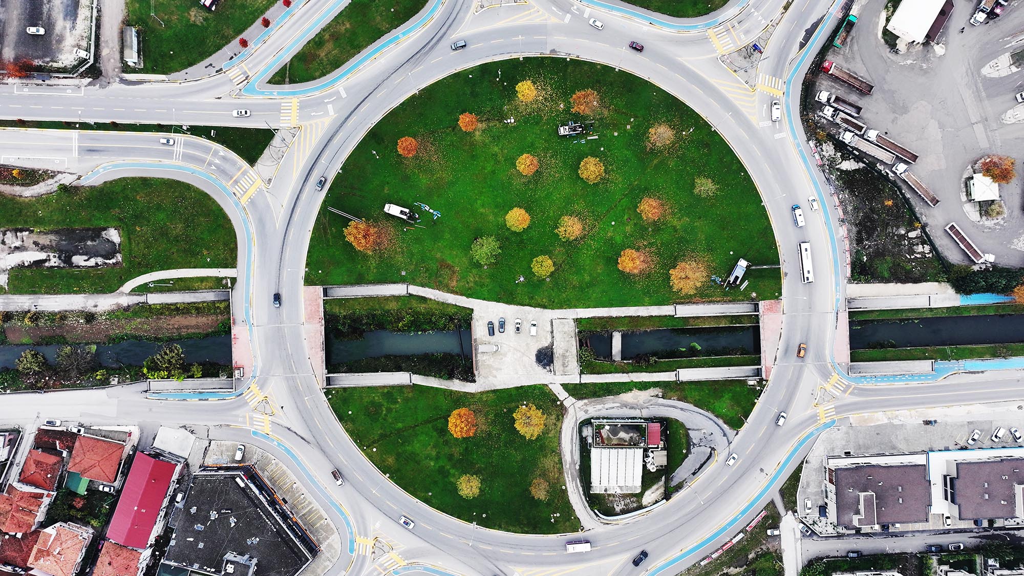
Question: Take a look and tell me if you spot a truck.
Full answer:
Yes, there's a truck here.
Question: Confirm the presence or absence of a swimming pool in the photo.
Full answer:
No, there appears to be no swimming pool in this shot.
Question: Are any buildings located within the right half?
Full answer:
Yes, a building shows up within the right half.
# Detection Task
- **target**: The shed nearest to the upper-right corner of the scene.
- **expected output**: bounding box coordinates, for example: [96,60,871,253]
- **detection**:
[875,0,956,50]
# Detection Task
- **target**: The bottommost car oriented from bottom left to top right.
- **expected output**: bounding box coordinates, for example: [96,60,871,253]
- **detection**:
[632,548,649,566]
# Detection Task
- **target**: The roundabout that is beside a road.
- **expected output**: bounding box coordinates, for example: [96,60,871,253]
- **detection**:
[250,0,849,576]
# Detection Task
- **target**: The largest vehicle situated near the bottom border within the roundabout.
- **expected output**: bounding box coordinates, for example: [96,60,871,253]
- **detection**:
[566,541,592,553]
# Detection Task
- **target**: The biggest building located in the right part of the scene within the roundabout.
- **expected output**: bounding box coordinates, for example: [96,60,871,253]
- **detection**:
[589,445,643,493]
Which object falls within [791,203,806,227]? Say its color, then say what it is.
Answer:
white vehicle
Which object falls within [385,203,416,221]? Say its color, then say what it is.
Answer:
white vehicle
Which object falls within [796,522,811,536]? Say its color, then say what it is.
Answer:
white car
